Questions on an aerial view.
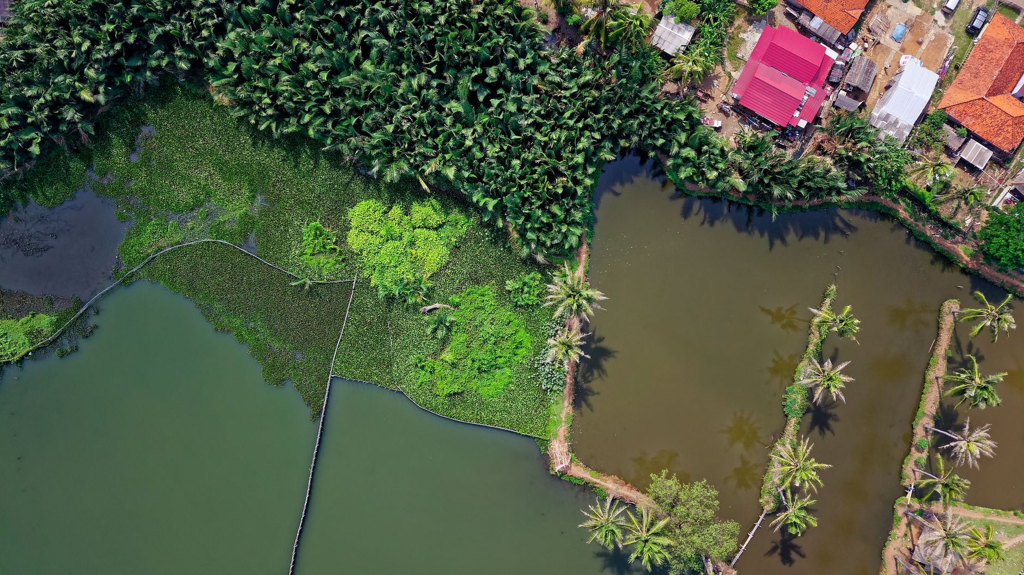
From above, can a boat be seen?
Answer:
No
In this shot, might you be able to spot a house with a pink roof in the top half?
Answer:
Yes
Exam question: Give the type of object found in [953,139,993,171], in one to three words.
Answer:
shed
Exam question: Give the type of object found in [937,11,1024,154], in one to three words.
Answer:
house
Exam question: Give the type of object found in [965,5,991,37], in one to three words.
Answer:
car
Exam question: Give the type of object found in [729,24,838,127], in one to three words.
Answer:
house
